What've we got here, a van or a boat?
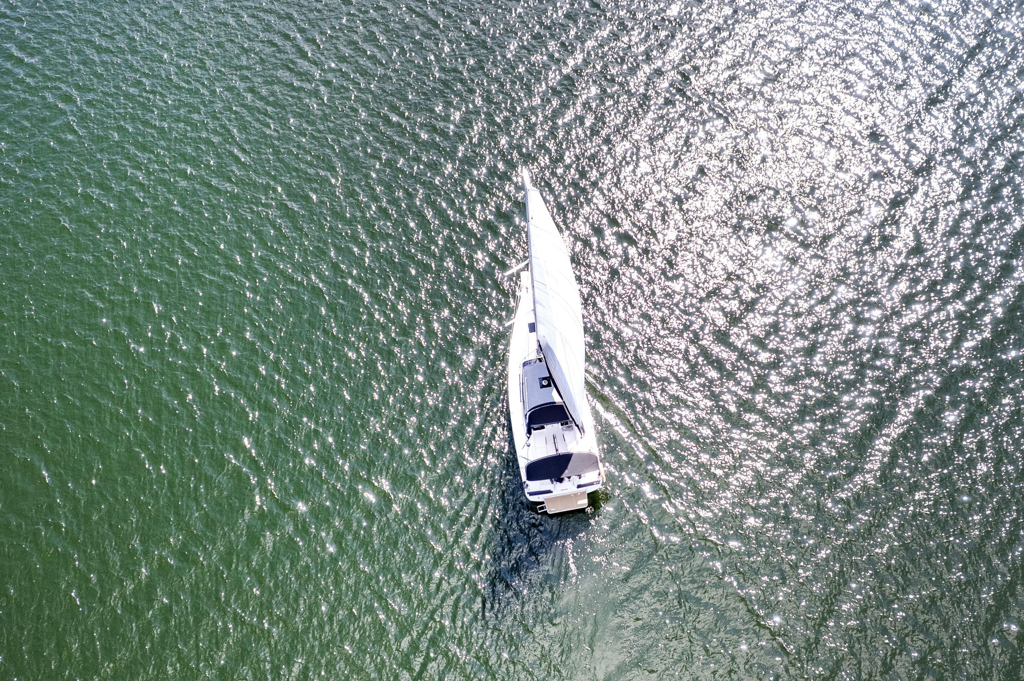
boat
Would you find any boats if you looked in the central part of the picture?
Yes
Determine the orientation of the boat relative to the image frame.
from top to bottom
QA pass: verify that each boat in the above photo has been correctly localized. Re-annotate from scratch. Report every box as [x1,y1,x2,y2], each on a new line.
[503,159,602,514]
